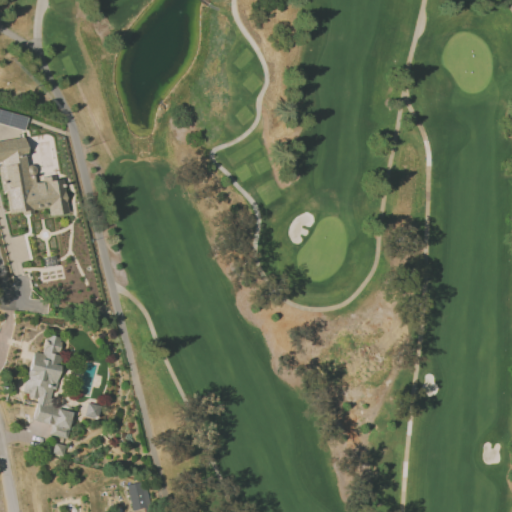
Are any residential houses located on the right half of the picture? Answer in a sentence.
No, no residential house appears on the right half of the picture.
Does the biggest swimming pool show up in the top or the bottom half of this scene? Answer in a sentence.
It is in the bottom half that the biggest swimming pool appears.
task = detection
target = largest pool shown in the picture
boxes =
[82,362,102,396]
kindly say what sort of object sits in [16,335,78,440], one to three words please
house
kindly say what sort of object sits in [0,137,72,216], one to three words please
house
